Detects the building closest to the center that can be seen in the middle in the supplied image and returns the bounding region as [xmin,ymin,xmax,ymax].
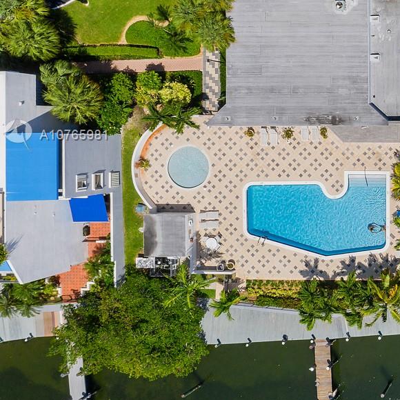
[143,212,201,259]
